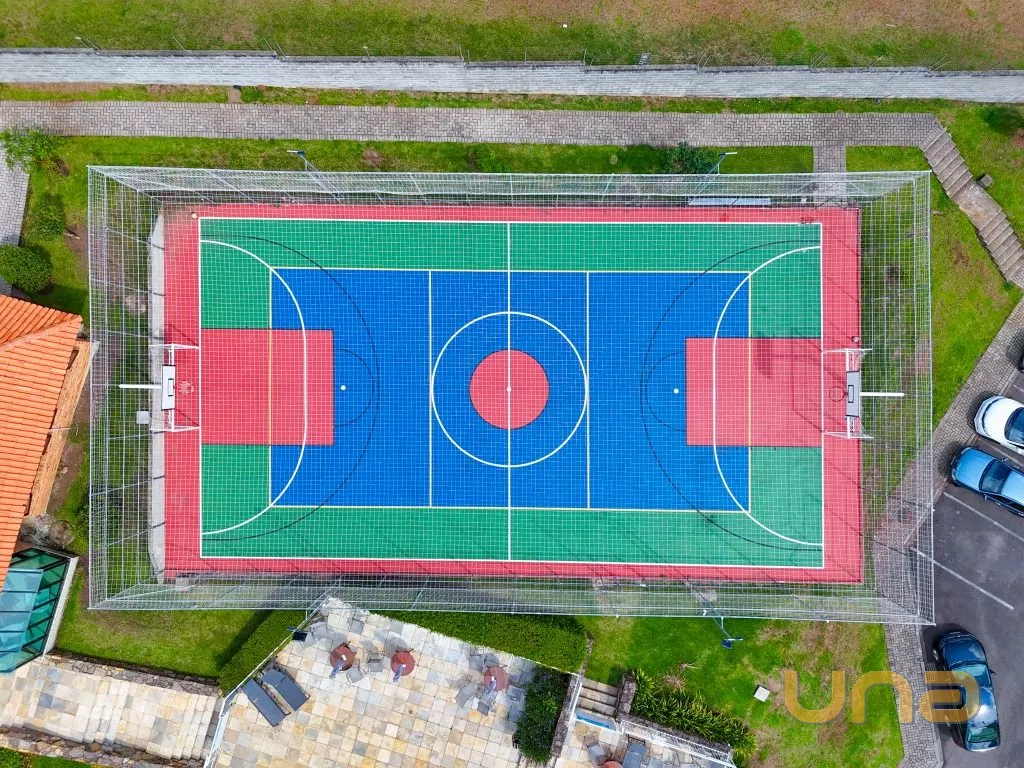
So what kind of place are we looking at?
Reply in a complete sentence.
The picture captures a sports ground.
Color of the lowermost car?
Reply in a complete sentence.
The color of the lowermost car is blue.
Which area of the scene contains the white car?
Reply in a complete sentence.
The white car sits in the right section of the image.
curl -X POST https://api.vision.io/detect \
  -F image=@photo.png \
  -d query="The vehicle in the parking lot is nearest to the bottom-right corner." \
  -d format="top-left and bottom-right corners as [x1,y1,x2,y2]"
[932,631,1002,752]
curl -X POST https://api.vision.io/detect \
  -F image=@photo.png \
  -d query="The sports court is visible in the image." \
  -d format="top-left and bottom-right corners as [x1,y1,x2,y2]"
[164,204,862,583]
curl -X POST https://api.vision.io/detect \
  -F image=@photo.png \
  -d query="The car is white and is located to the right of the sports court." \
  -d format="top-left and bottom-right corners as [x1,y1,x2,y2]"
[975,395,1024,456]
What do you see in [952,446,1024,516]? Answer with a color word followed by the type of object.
blue car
